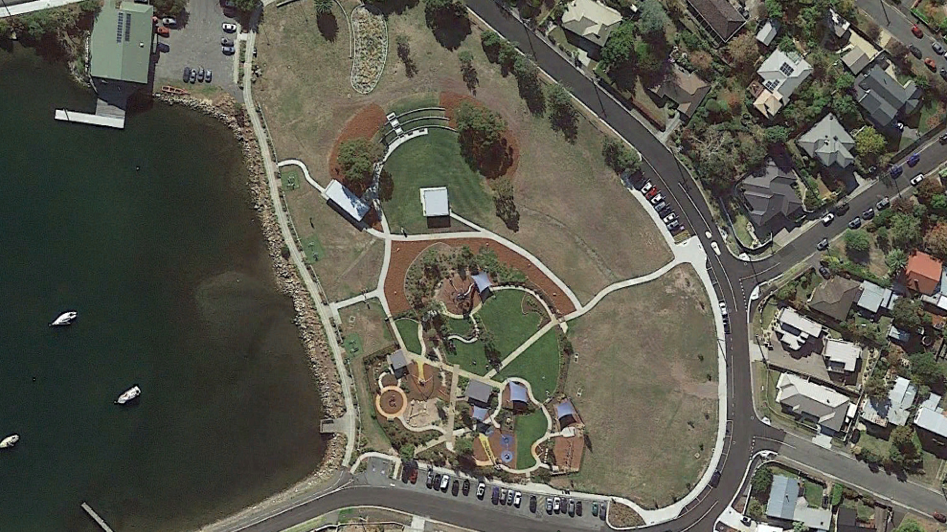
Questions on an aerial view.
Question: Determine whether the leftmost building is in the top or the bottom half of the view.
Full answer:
The leftmost building is in the top half of the image.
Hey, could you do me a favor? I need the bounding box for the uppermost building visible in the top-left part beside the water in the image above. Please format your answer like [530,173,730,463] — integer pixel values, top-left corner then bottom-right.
[91,0,154,81]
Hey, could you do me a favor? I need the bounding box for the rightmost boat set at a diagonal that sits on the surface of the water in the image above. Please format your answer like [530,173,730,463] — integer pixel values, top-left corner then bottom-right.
[116,383,140,402]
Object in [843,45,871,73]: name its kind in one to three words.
building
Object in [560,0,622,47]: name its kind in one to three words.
house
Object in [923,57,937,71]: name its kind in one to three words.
vehicle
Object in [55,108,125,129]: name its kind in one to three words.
pier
